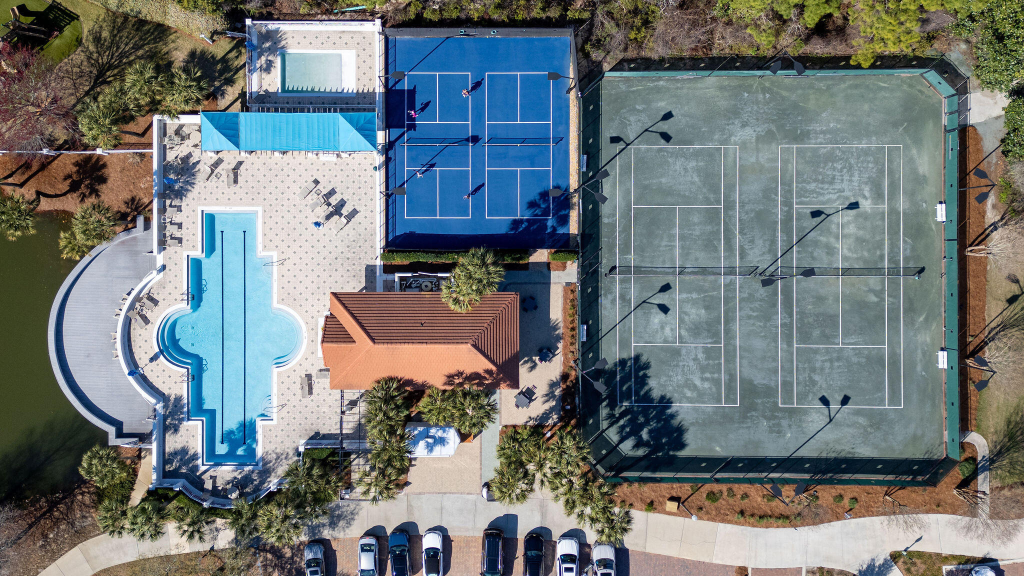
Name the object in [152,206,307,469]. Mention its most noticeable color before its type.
blue swimming pool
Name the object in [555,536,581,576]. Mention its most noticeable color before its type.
white car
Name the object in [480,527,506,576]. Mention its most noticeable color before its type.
black car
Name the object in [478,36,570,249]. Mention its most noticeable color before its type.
blue sports court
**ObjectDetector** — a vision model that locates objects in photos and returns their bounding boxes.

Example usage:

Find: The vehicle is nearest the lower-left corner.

[301,542,326,576]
